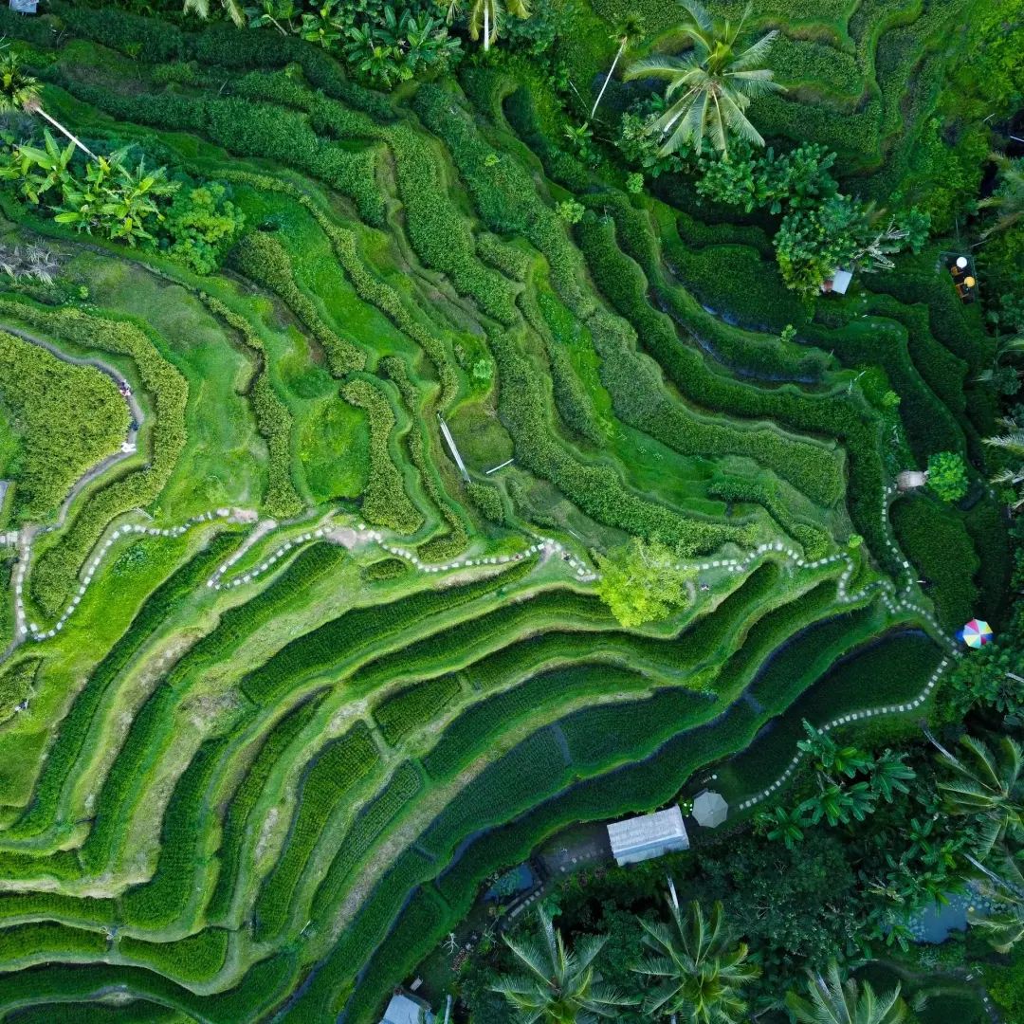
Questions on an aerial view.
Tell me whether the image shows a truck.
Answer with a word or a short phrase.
No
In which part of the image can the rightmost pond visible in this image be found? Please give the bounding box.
[891,879,1024,943]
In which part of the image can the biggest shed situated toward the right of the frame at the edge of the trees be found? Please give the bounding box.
[607,802,690,867]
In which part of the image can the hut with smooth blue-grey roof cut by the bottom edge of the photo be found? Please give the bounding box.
[376,990,435,1024]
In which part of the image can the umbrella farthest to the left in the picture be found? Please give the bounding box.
[693,791,729,827]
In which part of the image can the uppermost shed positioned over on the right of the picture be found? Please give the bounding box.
[822,269,853,298]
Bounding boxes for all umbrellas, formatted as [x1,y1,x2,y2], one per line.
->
[693,791,729,827]
[959,617,992,648]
